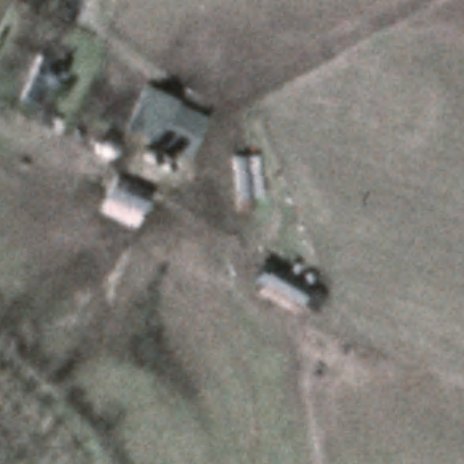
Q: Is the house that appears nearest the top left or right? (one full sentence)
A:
The house that appears nearest the top sits on the left side.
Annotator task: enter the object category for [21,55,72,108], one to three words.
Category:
house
